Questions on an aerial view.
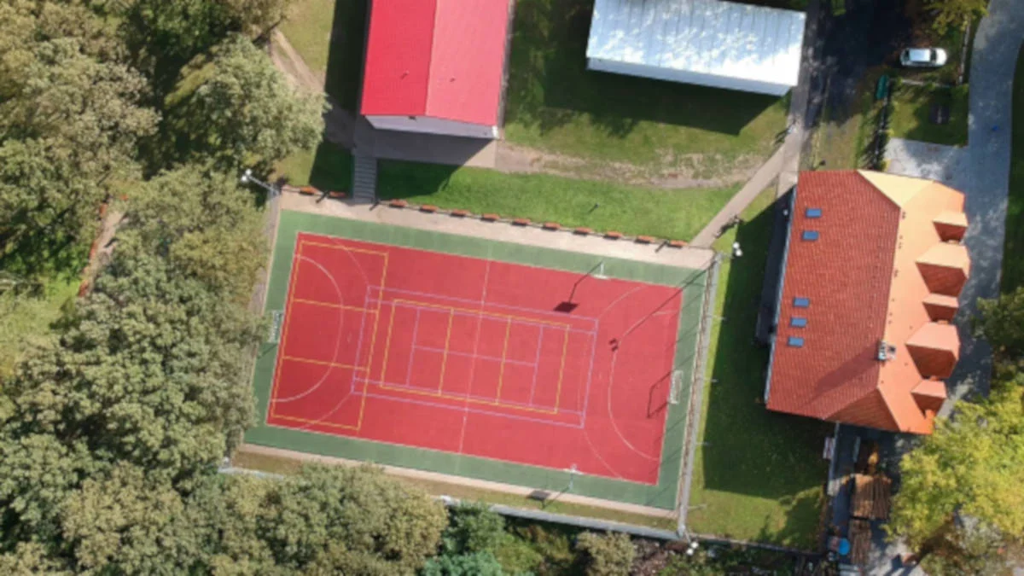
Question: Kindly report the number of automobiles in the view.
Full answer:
Altogether the scene contains 1 automobile.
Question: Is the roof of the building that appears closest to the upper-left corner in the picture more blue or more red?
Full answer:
In this view, the roof of the building that appears closest to the upper-left corner is red.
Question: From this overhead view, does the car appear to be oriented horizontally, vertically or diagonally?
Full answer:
What the image shows is the car lying horizontally.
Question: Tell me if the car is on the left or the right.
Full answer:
The car is on the right side of the image.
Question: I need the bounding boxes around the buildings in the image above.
[360,0,510,136]
[762,170,974,434]
[587,0,810,94]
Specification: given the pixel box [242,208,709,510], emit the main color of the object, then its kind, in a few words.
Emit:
red sports court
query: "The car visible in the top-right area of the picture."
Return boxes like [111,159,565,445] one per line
[902,44,949,67]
